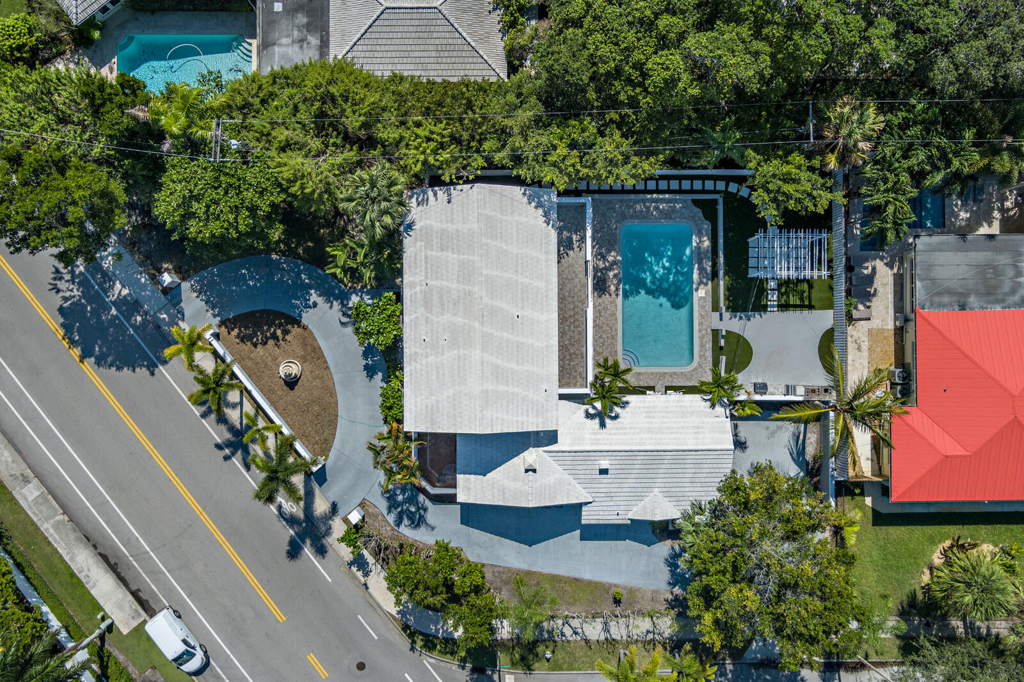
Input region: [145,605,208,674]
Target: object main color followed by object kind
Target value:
white van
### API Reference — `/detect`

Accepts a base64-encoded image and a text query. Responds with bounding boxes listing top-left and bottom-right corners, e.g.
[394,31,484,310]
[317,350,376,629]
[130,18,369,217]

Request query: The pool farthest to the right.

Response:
[902,183,945,228]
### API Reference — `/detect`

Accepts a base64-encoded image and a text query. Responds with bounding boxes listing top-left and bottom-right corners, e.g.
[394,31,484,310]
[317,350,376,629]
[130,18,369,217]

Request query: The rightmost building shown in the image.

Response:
[881,230,1024,503]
